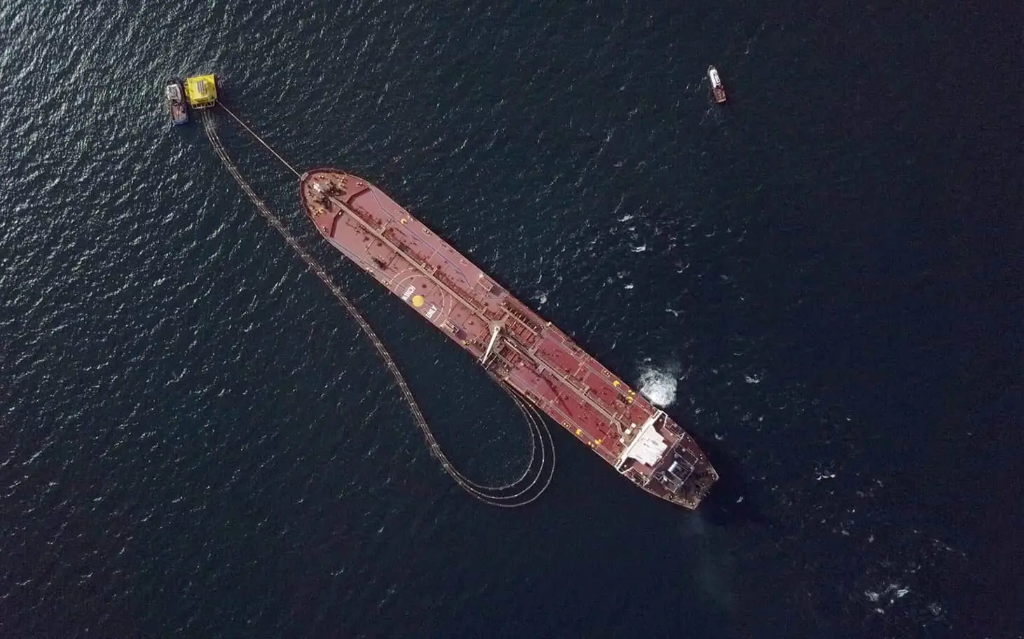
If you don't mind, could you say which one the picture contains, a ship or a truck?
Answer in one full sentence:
Visible in the photo is a ship.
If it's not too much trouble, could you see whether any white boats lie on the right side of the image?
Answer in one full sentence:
Yes, a white boat can be seen on the right side of the image.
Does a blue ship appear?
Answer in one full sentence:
No, there isn't any blue ship down there.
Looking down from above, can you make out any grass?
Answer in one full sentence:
No, grass can't be seen anywhere here.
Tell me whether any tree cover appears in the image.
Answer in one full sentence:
No, the picture contains no tree cover.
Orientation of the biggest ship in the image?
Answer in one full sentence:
In this picture, the biggest ship is oriented at an angle.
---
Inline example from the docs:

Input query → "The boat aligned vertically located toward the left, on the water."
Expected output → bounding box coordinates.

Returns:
[167,76,188,123]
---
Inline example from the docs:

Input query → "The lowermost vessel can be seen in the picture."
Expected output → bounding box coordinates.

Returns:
[299,169,719,510]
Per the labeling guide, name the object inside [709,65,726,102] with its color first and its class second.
white boat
